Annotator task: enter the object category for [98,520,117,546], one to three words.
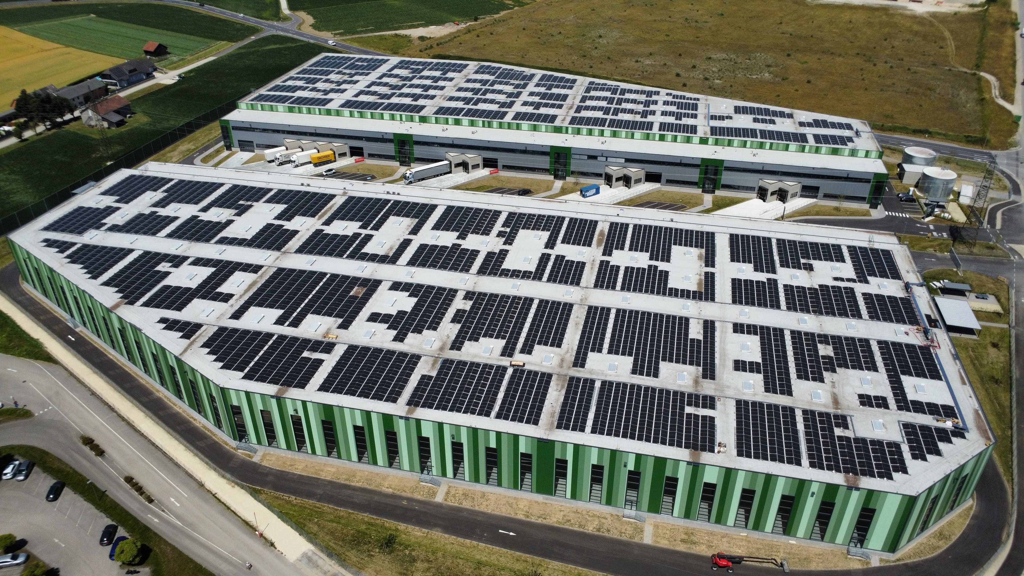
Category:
car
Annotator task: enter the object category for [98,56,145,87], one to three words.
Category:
house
